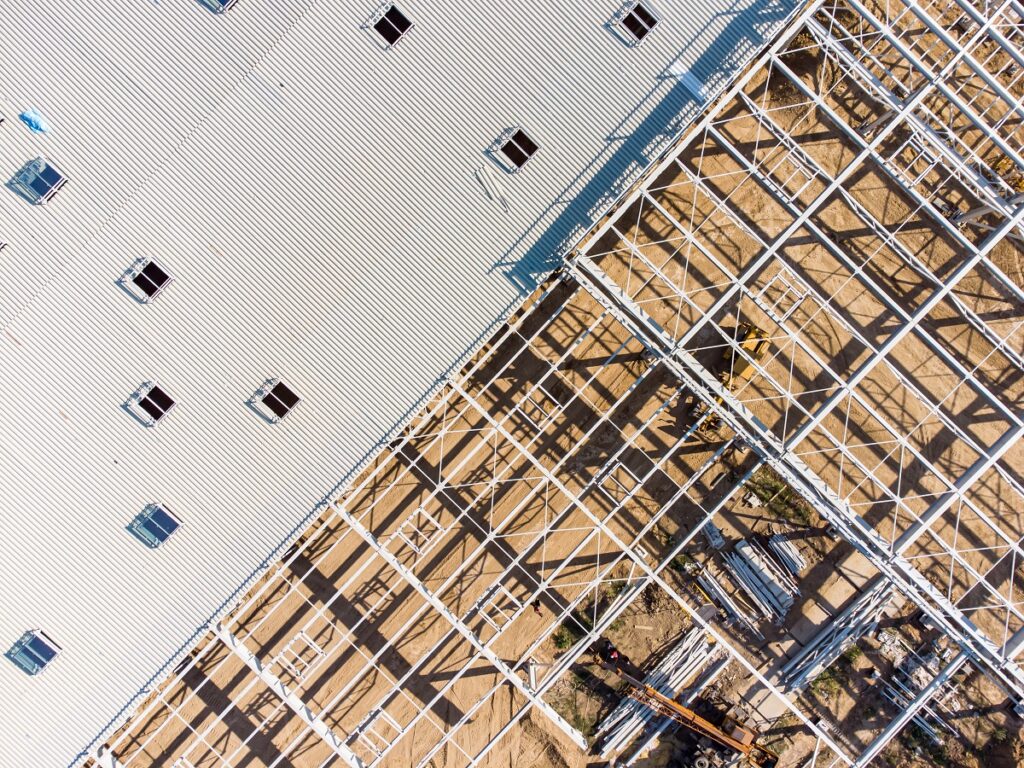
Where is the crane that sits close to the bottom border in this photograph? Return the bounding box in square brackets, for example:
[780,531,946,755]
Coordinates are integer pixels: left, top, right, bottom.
[592,649,777,768]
